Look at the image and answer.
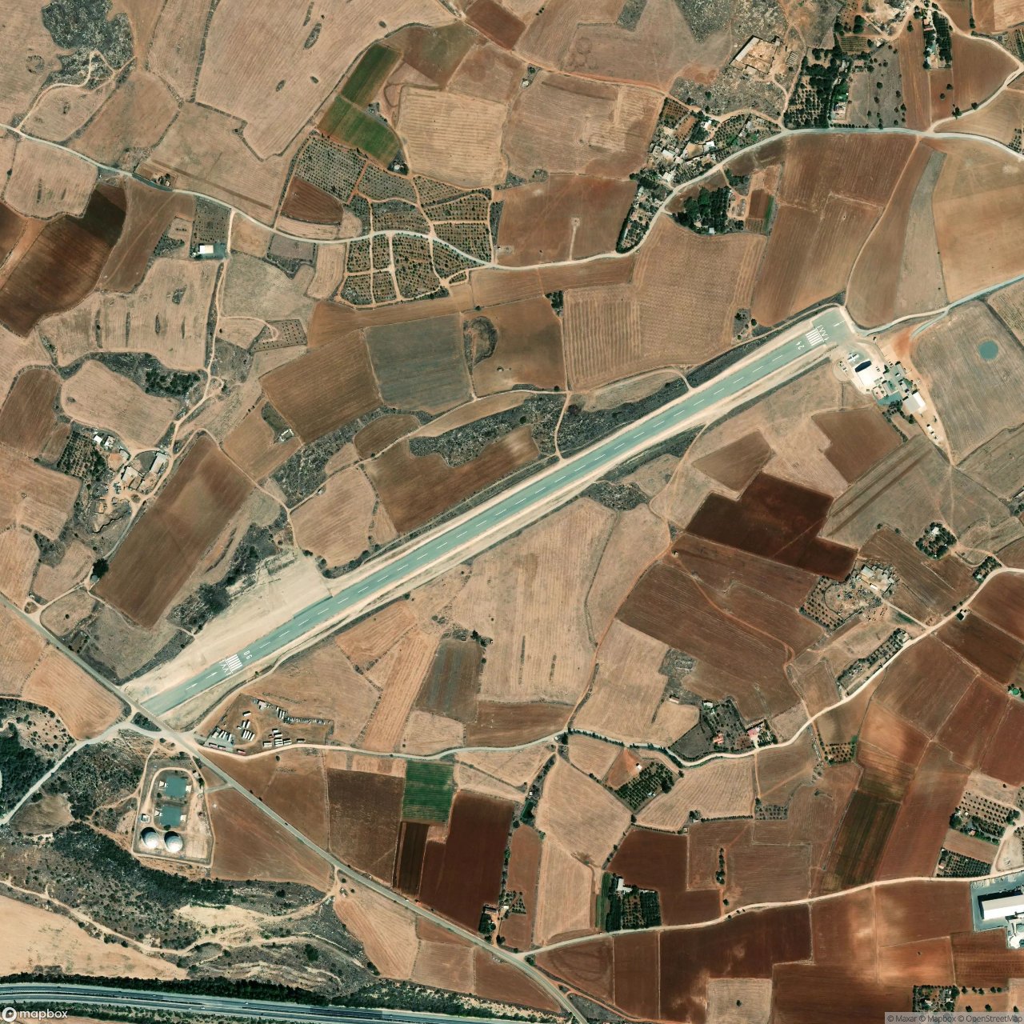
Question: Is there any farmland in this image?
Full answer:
Yes, the picture does contain farmland.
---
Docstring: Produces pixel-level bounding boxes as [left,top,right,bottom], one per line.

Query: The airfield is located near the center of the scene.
[139,310,889,720]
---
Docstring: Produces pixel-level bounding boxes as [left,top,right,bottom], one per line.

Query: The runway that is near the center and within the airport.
[145,326,823,717]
